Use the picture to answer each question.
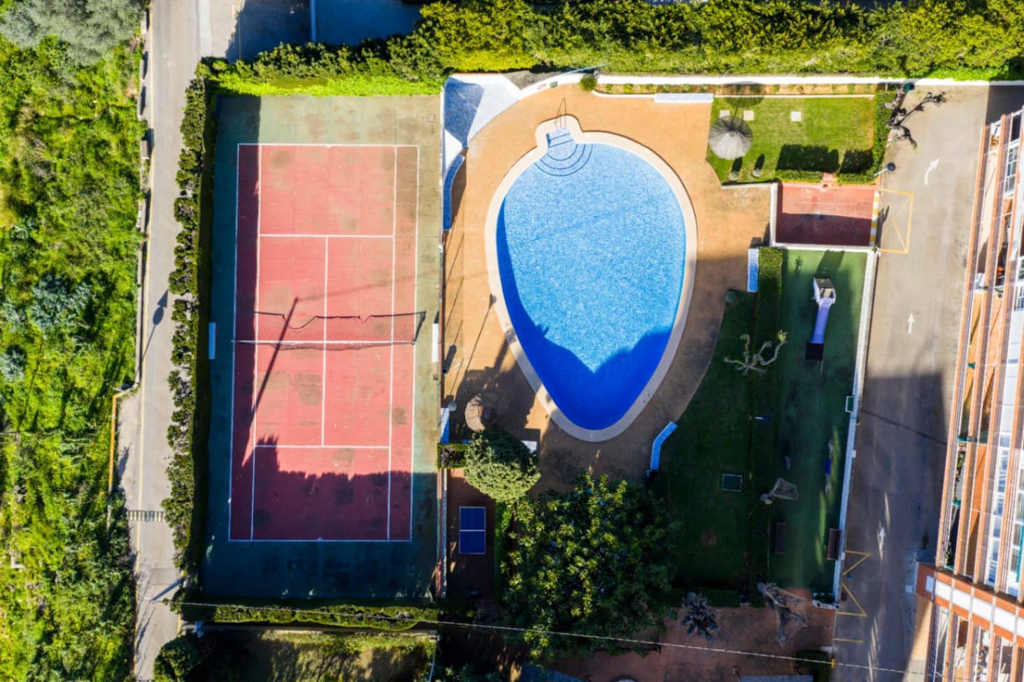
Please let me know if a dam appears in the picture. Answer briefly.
No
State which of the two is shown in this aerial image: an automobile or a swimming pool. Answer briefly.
swimming pool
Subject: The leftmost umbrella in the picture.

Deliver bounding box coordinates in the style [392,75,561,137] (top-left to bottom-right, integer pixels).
[465,390,507,432]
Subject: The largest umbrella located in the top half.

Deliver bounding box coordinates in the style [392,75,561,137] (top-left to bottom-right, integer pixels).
[708,116,752,159]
